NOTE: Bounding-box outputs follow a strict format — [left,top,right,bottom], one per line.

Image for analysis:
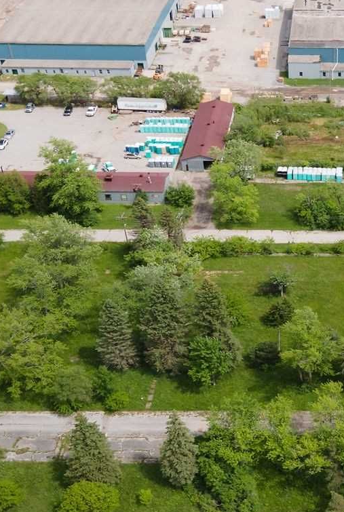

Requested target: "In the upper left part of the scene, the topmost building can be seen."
[0,0,177,77]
